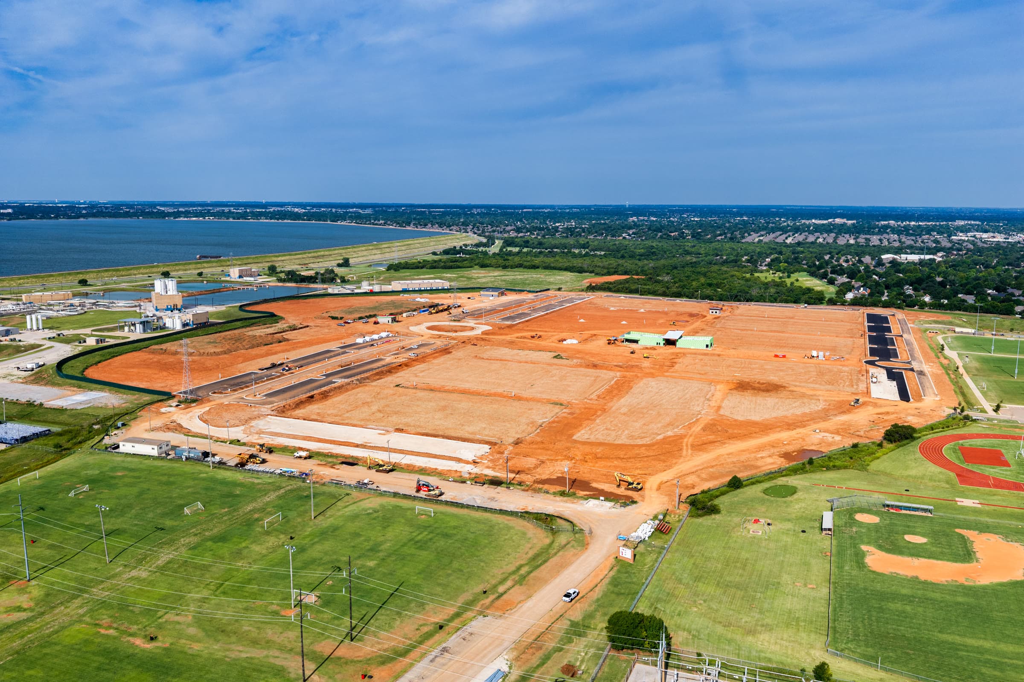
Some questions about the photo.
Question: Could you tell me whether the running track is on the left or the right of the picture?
right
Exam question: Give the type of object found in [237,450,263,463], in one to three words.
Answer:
vehicle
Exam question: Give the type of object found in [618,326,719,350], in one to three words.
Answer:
building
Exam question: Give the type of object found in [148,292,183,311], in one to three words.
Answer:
house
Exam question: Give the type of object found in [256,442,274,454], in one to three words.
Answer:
vehicle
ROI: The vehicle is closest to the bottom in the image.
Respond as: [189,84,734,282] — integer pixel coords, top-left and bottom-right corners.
[561,590,579,603]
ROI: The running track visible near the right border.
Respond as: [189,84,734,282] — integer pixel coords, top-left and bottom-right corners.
[914,432,1024,495]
